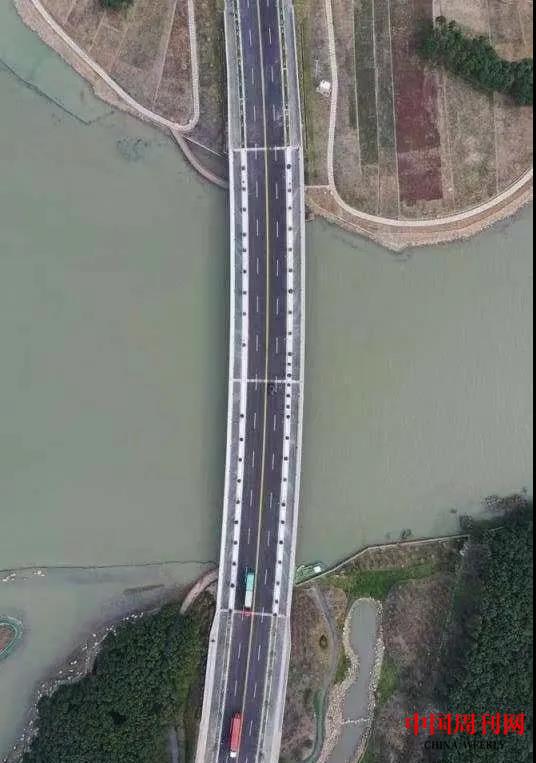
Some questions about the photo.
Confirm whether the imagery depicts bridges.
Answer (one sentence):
Yes, looking at the shot, I can spot a bridge.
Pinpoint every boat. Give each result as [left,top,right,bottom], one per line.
[294,562,325,581]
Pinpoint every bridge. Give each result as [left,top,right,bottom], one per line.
[216,146,305,615]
